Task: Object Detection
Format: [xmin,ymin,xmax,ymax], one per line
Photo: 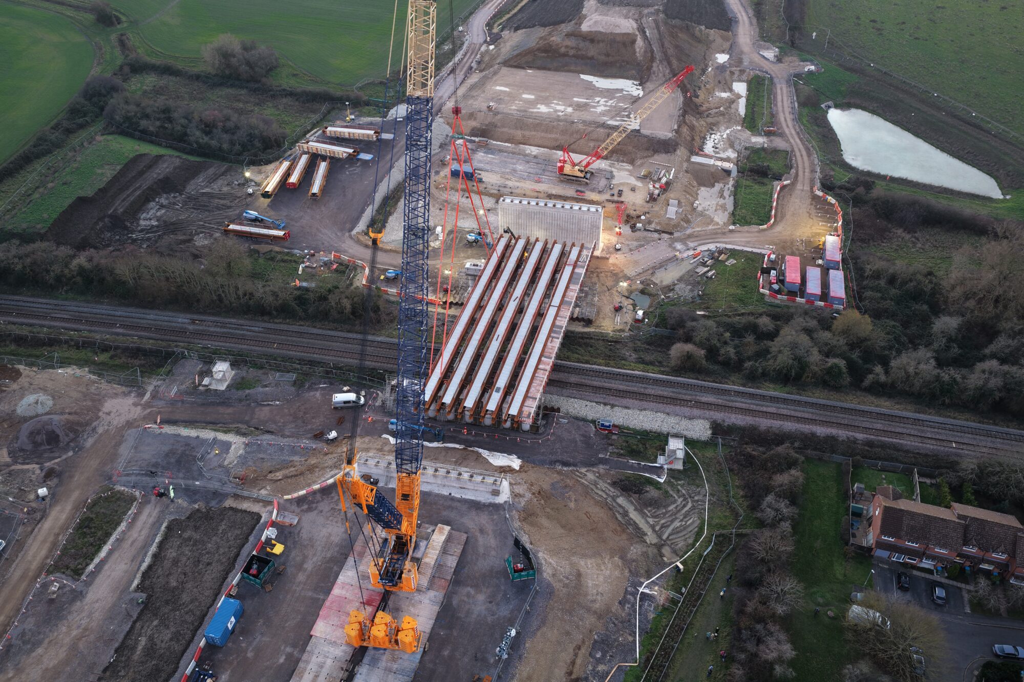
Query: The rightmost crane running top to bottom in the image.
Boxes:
[327,0,453,614]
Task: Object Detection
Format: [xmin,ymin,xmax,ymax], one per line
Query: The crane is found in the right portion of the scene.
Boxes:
[554,67,692,187]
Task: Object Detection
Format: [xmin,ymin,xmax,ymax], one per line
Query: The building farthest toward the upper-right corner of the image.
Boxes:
[826,233,844,268]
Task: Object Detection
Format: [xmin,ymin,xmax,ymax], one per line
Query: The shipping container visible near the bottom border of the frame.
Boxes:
[200,599,239,648]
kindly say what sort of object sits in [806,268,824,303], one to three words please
building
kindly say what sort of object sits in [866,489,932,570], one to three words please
house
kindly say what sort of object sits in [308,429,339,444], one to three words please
work vehicle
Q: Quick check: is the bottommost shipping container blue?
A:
Yes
